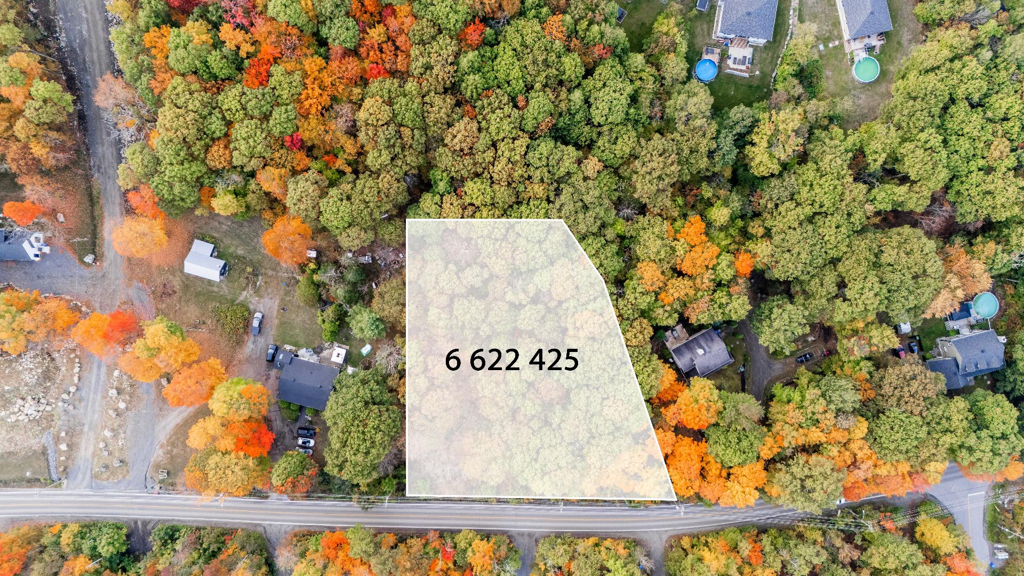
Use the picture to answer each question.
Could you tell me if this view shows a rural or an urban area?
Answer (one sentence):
The area shown here is rural.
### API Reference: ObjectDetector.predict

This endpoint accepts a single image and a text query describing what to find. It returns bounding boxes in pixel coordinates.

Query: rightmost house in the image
[922,329,1017,391]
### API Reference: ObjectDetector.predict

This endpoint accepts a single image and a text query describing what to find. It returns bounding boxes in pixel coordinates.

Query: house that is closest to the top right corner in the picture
[835,0,893,41]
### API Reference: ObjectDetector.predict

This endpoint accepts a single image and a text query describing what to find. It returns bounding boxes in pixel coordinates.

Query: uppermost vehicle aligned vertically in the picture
[251,313,264,335]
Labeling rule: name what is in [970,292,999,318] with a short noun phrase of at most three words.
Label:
swimming pool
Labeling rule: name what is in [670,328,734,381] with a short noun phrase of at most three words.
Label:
house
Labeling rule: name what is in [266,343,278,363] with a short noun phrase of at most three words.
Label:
vehicle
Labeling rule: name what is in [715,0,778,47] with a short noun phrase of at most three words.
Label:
house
